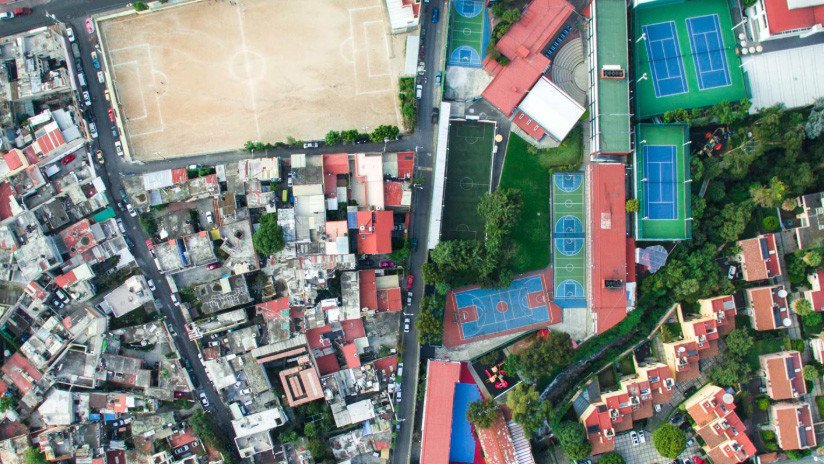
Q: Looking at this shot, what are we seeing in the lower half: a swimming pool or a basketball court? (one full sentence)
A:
The one visible in the lower half is a basketball court.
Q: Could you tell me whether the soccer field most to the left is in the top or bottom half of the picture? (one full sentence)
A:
You can find the soccer field most to the left in the top half.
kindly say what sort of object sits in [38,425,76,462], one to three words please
house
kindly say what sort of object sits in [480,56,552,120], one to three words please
building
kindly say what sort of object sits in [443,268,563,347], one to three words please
basketball court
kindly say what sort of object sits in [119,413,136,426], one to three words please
vehicle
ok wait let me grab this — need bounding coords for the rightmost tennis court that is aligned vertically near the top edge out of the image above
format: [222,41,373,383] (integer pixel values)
[682,0,740,110]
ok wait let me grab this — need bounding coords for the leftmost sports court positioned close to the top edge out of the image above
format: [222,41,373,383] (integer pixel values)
[447,0,492,67]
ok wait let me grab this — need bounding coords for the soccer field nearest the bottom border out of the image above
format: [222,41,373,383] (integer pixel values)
[441,121,496,245]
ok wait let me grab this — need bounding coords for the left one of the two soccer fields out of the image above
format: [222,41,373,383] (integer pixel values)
[101,0,407,162]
